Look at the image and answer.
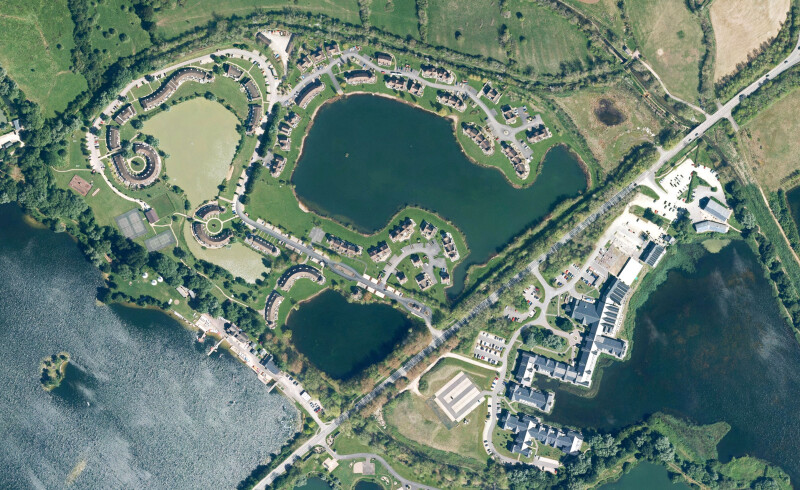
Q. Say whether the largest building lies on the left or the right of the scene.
right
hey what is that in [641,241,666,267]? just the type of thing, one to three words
shed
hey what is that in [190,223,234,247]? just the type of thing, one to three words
building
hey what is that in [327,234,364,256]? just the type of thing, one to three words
house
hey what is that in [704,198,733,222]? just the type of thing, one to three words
barn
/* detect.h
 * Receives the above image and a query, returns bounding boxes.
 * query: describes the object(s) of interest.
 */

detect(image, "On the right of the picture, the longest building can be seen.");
[516,295,629,388]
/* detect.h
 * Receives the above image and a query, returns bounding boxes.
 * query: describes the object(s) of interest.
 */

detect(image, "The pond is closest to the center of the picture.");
[289,288,410,377]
